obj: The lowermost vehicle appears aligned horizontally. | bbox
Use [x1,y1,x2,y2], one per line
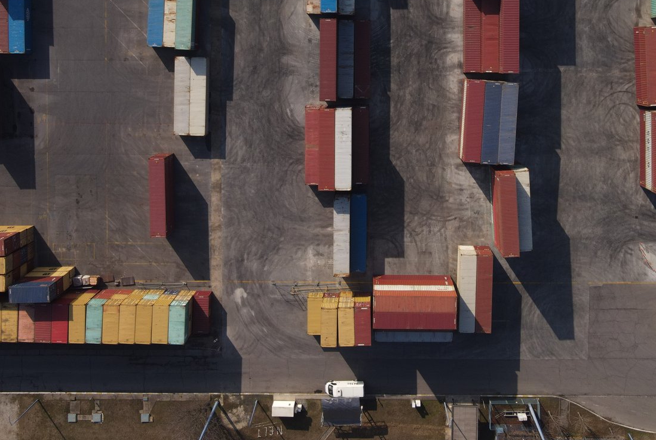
[326,376,364,394]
